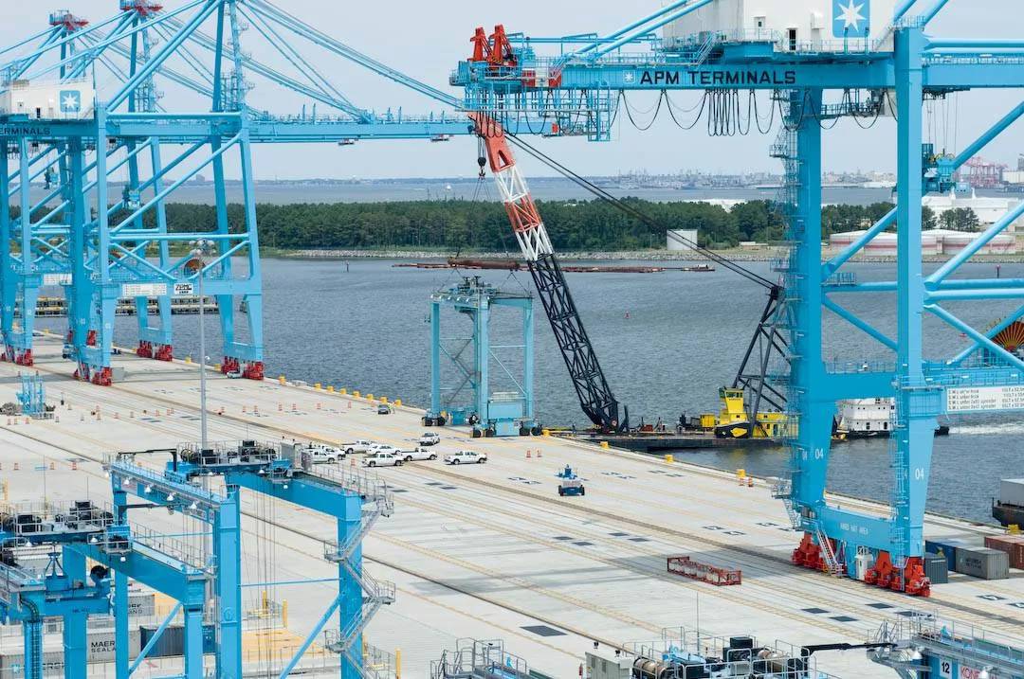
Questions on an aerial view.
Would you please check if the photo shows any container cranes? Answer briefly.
Yes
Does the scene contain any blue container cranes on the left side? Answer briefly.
Yes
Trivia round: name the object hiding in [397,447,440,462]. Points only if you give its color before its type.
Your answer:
white vehicle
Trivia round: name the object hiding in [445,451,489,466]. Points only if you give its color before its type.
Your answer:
white vehicle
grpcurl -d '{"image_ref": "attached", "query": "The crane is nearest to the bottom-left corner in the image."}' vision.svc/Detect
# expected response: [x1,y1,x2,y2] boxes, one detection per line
[0,451,217,679]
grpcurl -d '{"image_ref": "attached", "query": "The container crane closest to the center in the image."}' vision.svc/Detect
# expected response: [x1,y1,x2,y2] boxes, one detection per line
[409,273,542,437]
